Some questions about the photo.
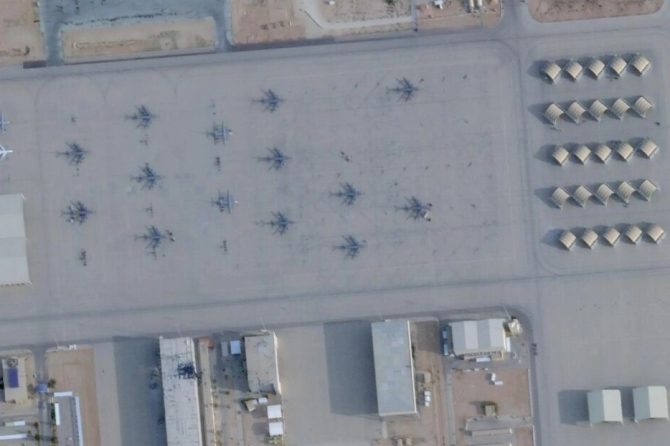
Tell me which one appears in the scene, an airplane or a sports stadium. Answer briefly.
airplane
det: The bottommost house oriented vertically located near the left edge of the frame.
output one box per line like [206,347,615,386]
[3,358,28,405]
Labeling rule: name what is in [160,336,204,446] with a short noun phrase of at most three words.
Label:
hangar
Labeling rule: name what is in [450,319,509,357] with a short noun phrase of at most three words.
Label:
building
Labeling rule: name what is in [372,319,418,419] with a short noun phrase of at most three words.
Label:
hangar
